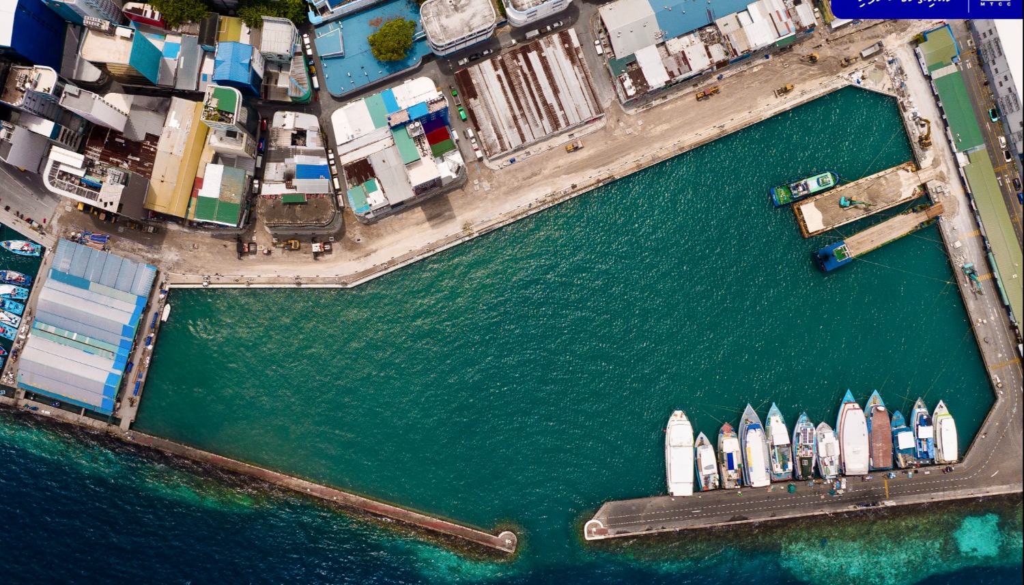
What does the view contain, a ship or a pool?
ship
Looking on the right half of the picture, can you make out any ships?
Yes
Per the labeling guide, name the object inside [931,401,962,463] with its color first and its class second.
white boat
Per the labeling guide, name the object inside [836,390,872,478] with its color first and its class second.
white boat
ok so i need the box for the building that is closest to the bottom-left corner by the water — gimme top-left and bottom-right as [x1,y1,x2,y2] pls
[17,238,160,418]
